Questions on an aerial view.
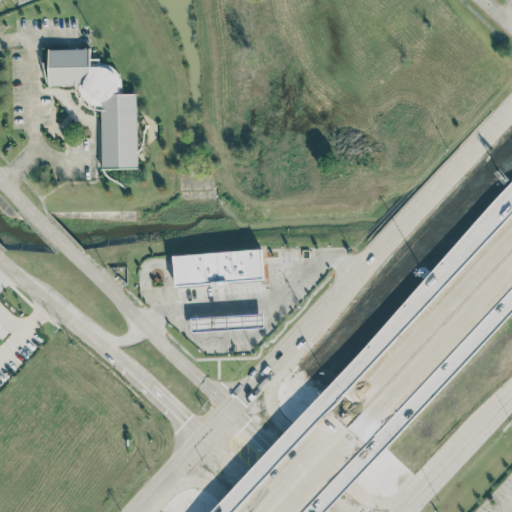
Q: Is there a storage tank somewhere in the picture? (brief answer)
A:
No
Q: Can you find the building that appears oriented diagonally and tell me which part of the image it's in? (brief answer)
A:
top left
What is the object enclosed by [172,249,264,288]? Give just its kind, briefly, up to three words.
building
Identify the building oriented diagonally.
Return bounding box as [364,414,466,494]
[46,48,138,169]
